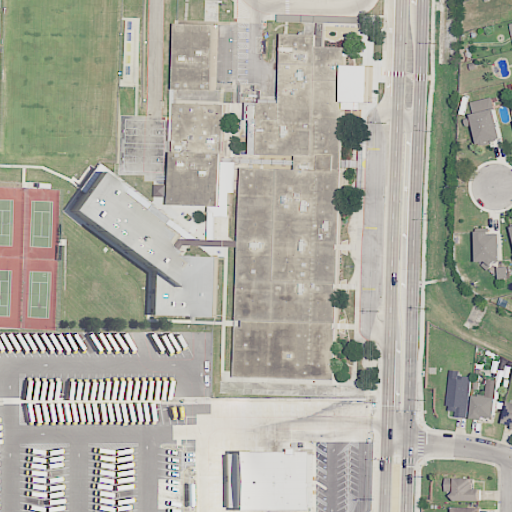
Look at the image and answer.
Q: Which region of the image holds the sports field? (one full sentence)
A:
The sports field appears toward the top left of the photo.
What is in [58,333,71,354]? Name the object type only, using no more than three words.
vehicle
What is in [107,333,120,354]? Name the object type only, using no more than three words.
vehicle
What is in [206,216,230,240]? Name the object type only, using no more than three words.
building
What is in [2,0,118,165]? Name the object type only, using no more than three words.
sports field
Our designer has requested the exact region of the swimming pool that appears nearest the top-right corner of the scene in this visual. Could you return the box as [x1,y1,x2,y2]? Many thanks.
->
[492,58,512,79]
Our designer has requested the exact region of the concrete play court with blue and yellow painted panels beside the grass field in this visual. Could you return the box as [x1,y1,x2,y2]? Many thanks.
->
[120,18,140,87]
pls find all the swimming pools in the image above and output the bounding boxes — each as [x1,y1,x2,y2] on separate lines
[498,105,512,126]
[492,58,512,79]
